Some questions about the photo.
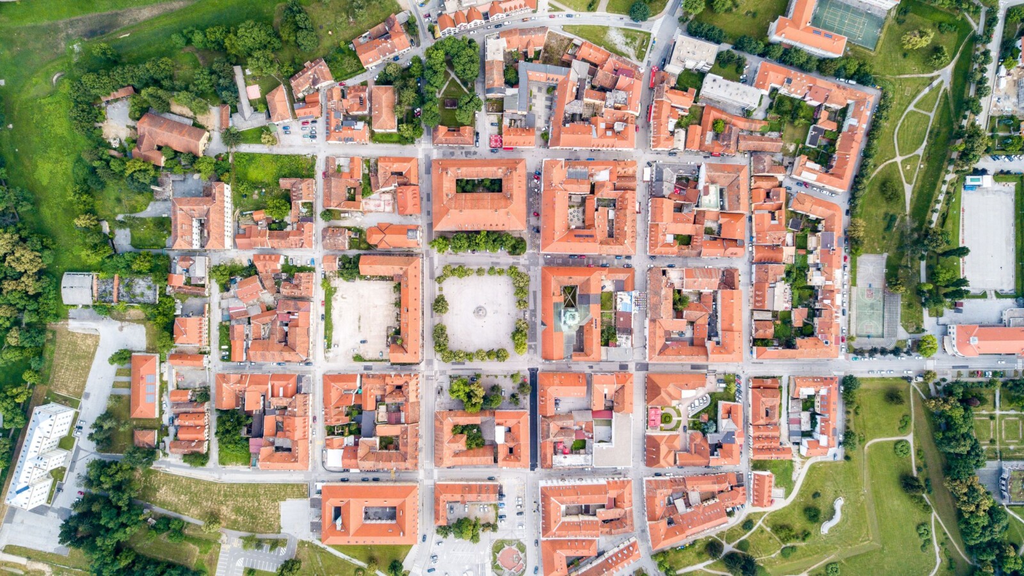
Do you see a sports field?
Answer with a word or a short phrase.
Yes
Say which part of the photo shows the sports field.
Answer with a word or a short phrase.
right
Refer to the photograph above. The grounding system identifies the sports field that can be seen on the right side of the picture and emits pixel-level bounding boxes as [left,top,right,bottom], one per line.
[962,186,1015,293]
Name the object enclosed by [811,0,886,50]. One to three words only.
sports court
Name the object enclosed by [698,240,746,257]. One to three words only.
house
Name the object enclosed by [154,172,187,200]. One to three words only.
shed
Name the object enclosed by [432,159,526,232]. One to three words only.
building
